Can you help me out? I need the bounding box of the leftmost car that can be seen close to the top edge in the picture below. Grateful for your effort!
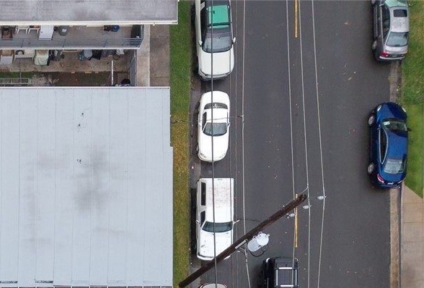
[194,0,237,82]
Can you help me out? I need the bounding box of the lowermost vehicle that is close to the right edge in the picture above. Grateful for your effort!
[366,103,410,190]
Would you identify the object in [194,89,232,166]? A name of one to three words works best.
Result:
car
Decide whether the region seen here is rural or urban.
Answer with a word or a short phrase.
urban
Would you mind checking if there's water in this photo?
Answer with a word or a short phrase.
No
